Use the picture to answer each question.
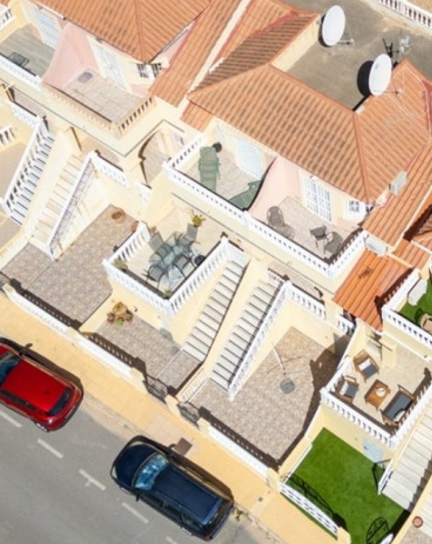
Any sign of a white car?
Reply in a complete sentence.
No, there is no white car in the image.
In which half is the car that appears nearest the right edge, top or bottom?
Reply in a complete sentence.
The car that appears nearest the right edge is in the bottom half of the image.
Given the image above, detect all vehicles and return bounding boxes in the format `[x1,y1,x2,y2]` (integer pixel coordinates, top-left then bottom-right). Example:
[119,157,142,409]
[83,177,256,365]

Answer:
[115,440,236,543]
[0,347,83,433]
